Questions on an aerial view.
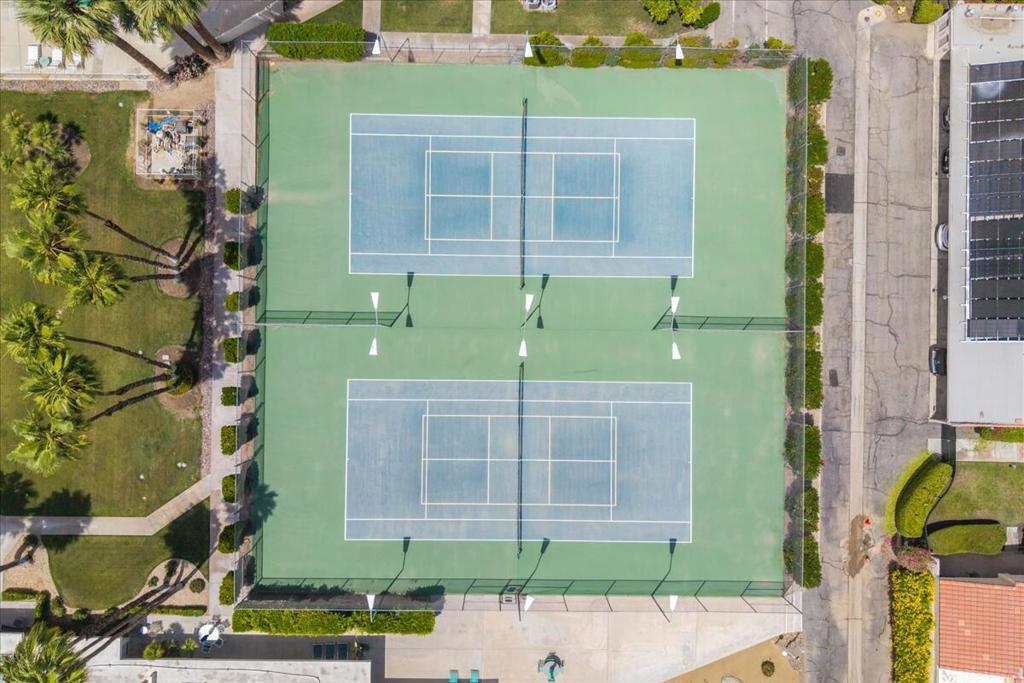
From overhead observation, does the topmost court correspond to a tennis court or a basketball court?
tennis court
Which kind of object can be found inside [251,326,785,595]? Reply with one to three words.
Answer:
tennis court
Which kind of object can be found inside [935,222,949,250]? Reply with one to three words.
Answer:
car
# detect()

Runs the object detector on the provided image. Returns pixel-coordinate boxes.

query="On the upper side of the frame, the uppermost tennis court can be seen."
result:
[254,61,787,331]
